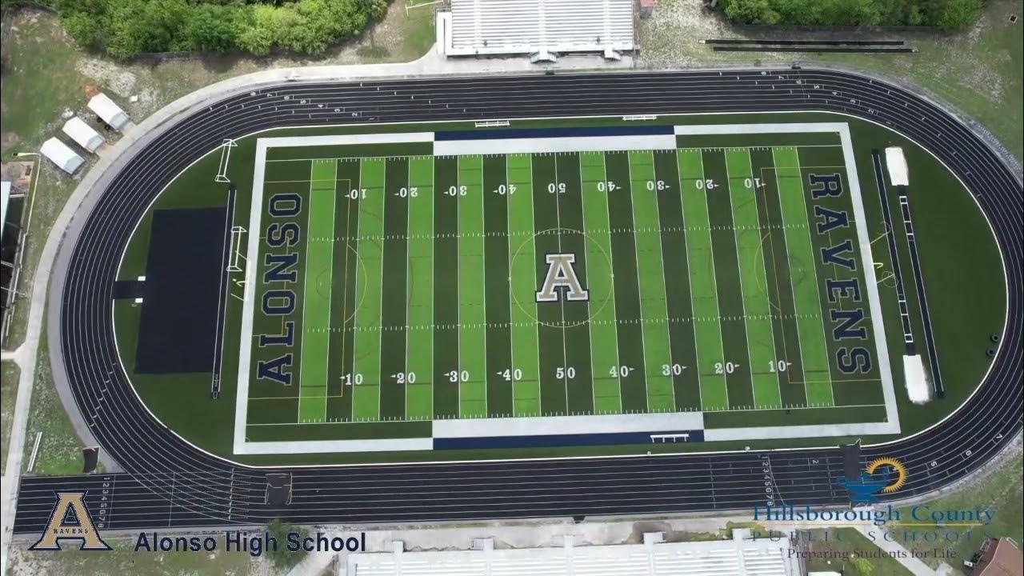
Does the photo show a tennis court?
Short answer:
No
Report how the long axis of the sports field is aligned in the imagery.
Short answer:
horizontally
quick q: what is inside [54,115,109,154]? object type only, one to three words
shed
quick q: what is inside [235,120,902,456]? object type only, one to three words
sports field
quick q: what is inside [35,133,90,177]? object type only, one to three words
shed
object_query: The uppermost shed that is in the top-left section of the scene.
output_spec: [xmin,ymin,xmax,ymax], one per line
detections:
[84,90,133,132]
